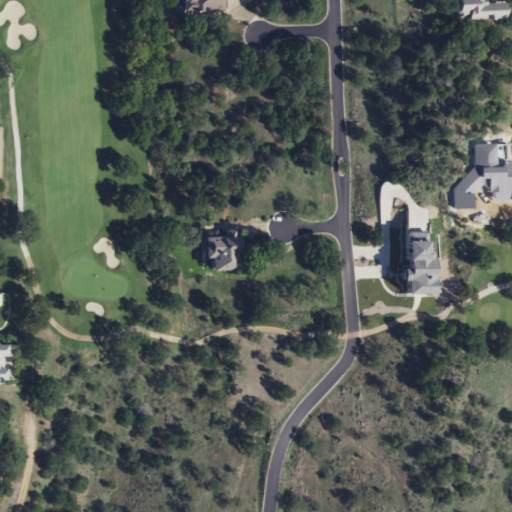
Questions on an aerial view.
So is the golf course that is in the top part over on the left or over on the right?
left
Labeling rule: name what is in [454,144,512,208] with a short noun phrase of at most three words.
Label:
house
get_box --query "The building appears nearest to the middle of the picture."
[208,230,238,271]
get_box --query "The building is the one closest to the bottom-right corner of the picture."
[408,232,442,296]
